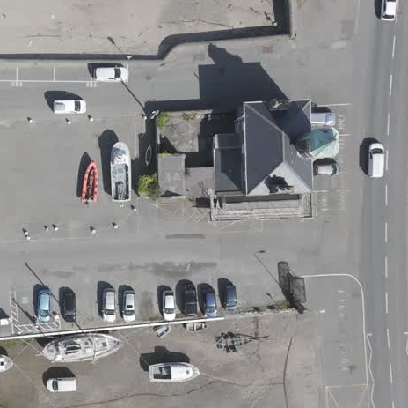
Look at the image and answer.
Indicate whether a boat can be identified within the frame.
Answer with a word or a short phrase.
Yes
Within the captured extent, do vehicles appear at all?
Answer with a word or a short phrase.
Yes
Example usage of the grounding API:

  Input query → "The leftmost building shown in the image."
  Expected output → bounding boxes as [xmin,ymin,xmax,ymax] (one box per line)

[158,155,186,196]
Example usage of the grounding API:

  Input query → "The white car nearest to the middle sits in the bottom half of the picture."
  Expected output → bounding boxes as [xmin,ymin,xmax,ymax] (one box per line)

[162,288,177,320]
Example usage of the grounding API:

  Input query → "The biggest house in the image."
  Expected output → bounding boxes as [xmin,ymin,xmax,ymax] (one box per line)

[210,98,315,222]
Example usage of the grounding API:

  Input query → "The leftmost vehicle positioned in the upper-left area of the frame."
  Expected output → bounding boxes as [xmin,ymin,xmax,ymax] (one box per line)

[53,99,87,114]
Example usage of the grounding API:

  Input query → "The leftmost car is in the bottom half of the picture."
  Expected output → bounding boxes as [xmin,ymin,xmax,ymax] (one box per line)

[37,288,51,321]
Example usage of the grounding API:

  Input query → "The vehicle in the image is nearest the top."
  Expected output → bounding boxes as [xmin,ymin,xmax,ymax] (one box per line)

[379,0,395,21]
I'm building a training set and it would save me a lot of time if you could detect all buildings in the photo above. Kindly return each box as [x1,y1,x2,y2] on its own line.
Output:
[210,98,315,222]
[158,155,186,196]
